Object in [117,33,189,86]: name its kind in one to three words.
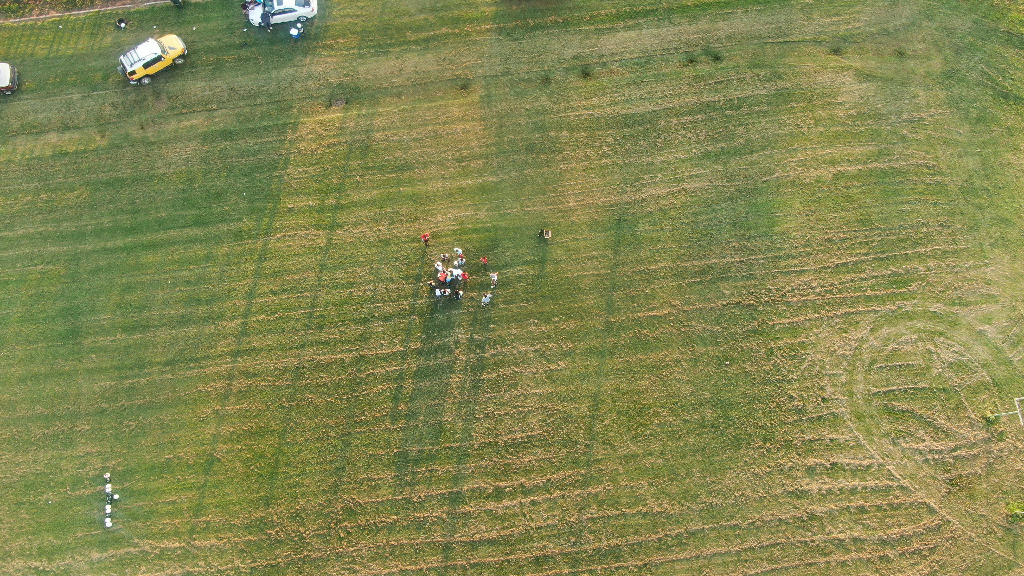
car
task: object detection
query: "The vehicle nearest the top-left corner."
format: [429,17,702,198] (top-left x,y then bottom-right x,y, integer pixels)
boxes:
[0,65,20,96]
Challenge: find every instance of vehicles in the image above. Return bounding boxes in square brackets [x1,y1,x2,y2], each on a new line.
[117,33,189,86]
[0,65,20,96]
[246,0,317,27]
